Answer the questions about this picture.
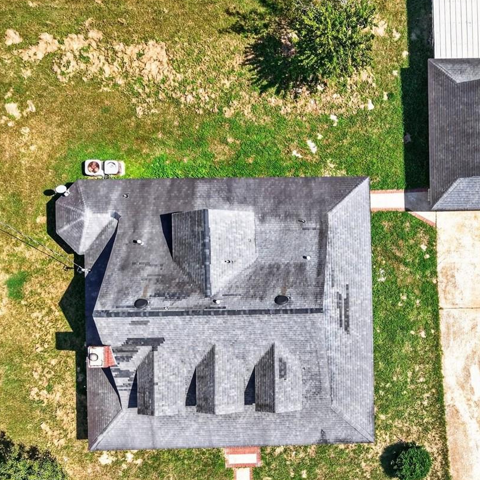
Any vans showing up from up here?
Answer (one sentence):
No, I can't see a single van in this photo.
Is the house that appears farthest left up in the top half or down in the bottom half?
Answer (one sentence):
The house that appears farthest left is in the bottom half of the image.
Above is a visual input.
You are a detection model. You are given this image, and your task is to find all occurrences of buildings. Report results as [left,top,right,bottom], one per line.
[428,57,480,211]
[55,176,375,451]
